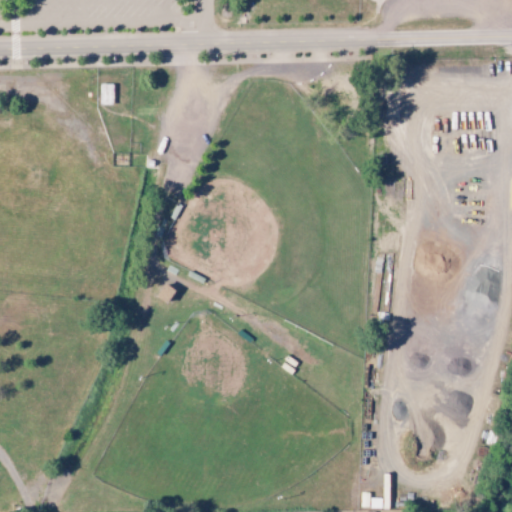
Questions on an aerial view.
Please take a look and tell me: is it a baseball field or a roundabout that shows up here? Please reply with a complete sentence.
I can see a baseball field in this picture.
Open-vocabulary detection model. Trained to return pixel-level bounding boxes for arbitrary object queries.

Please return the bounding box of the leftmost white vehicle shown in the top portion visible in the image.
[156,137,170,155]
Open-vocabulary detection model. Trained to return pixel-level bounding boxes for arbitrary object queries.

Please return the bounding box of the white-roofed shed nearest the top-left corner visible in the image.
[100,82,114,105]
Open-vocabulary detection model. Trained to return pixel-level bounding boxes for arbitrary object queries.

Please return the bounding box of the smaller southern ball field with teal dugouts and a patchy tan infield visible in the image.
[97,310,352,507]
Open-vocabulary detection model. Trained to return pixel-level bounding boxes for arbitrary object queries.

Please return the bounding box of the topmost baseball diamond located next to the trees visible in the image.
[168,78,371,357]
